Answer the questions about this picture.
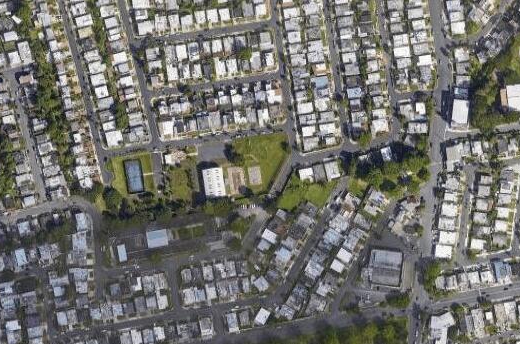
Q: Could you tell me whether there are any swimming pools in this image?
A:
No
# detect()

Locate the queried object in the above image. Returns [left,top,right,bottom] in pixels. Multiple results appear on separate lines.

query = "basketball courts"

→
[249,166,262,185]
[123,158,145,194]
